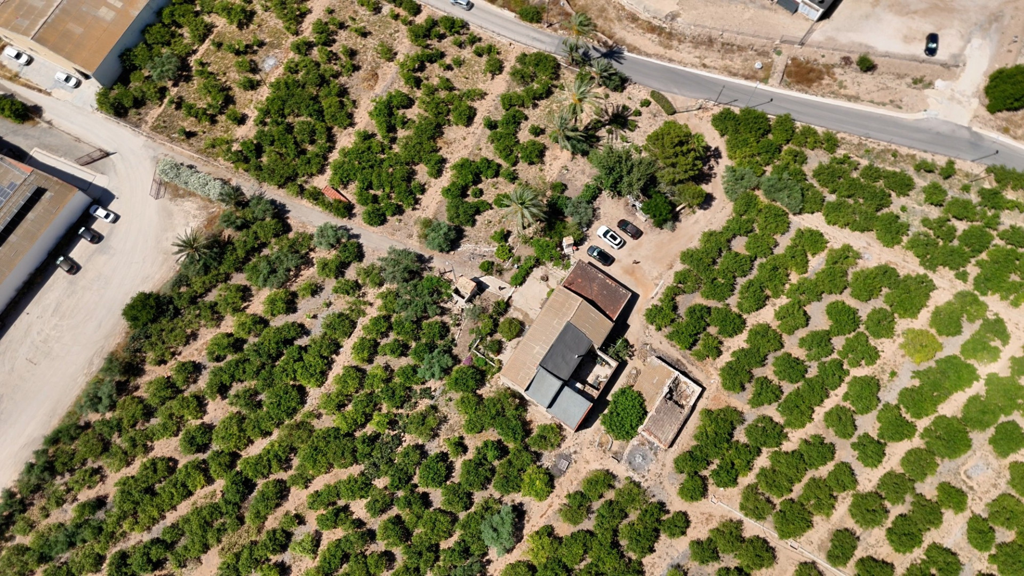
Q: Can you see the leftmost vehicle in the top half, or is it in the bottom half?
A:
top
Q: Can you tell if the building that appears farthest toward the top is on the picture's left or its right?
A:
right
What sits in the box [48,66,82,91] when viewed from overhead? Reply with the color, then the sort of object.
white vehicle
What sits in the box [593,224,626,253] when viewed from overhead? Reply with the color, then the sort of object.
white car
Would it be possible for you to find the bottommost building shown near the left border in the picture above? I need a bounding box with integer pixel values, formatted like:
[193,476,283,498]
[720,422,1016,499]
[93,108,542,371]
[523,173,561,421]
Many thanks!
[0,152,93,313]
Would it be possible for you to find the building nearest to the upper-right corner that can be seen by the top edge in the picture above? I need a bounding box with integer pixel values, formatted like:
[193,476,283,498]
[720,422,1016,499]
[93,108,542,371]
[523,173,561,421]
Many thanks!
[791,0,832,32]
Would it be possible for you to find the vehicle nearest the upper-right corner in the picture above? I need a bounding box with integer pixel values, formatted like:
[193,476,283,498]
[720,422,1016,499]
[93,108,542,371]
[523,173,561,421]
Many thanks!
[922,31,940,59]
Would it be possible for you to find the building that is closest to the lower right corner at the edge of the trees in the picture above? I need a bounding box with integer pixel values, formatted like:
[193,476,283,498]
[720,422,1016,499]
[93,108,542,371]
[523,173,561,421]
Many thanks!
[631,355,703,450]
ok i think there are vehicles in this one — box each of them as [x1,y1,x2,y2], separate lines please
[86,204,120,227]
[922,31,940,59]
[448,0,475,14]
[593,224,626,253]
[48,66,82,91]
[0,41,33,67]
[614,218,646,243]
[584,243,617,269]
[75,225,104,248]
[52,253,82,278]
